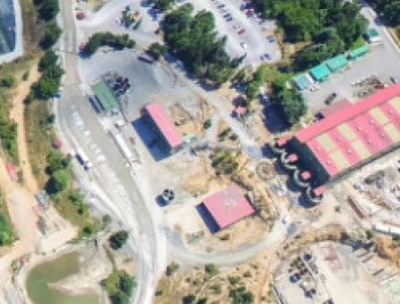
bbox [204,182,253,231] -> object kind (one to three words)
building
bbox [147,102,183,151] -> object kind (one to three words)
shed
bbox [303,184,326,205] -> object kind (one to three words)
silo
